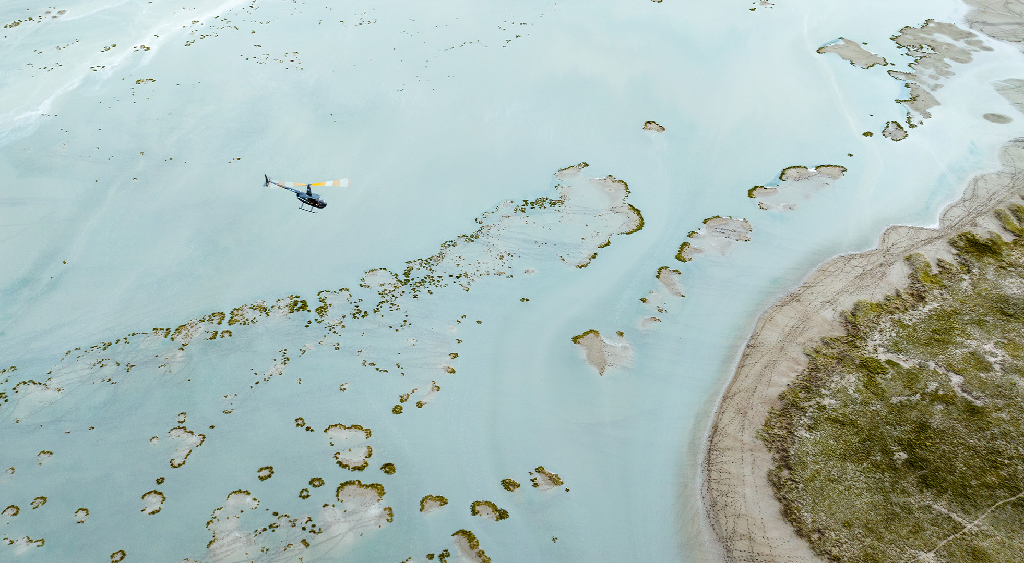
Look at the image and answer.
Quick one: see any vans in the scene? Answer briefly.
No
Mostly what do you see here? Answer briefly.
water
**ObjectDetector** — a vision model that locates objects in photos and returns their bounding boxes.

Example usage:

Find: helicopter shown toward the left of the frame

[264,172,351,215]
